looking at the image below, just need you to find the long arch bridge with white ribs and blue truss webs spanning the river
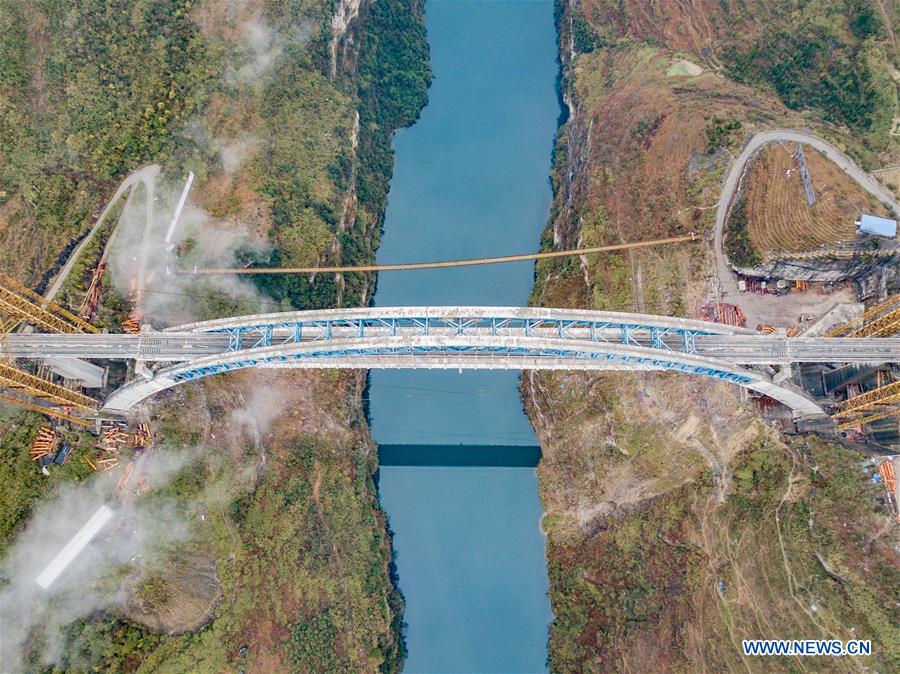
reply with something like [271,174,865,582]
[0,307,900,418]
